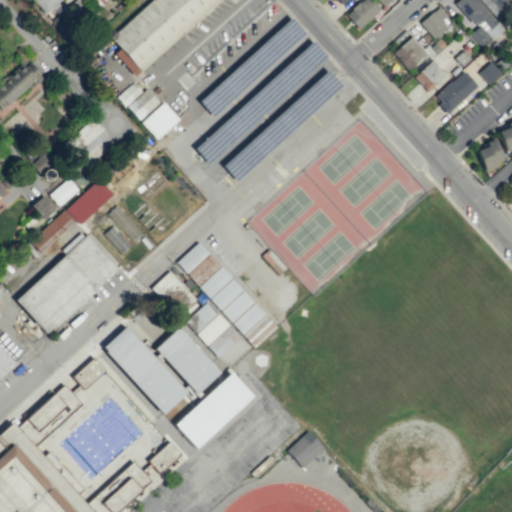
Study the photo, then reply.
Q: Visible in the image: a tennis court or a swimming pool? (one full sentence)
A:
Of the two, only a tennis court appears.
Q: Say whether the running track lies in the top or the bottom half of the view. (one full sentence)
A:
The running track sits in the bottom half of the picture.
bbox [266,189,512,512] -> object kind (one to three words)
sports field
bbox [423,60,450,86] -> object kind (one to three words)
house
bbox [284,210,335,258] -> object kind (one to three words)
tennis court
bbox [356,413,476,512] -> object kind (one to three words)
baseball field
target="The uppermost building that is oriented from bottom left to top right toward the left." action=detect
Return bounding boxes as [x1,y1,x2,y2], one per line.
[113,0,223,71]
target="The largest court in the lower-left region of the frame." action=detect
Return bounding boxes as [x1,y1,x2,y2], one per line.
[61,399,142,478]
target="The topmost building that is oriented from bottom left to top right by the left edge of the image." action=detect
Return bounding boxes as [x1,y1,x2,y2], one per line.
[0,60,38,104]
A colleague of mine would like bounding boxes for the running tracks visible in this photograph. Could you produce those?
[223,483,351,512]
